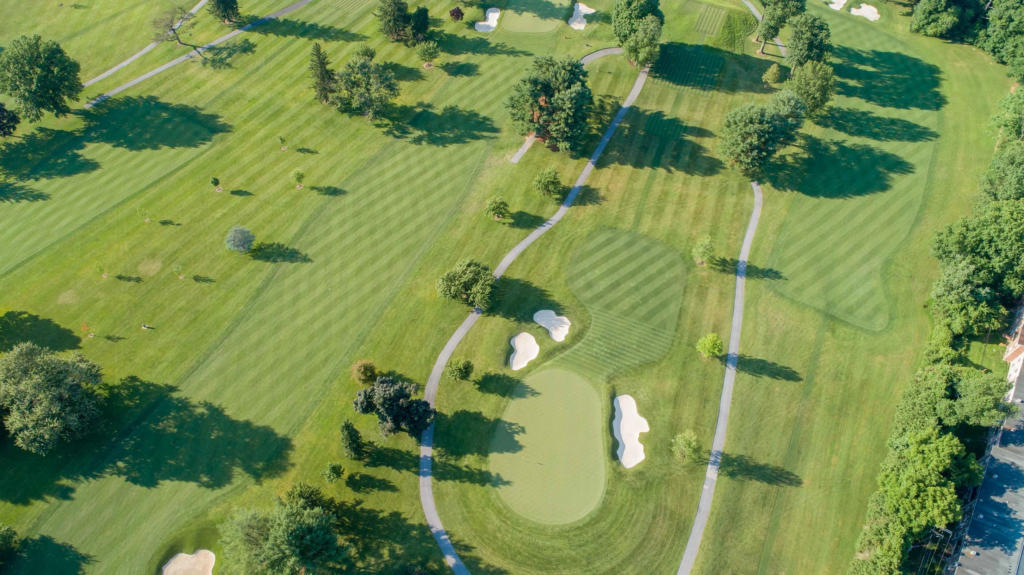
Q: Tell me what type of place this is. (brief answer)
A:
golf course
